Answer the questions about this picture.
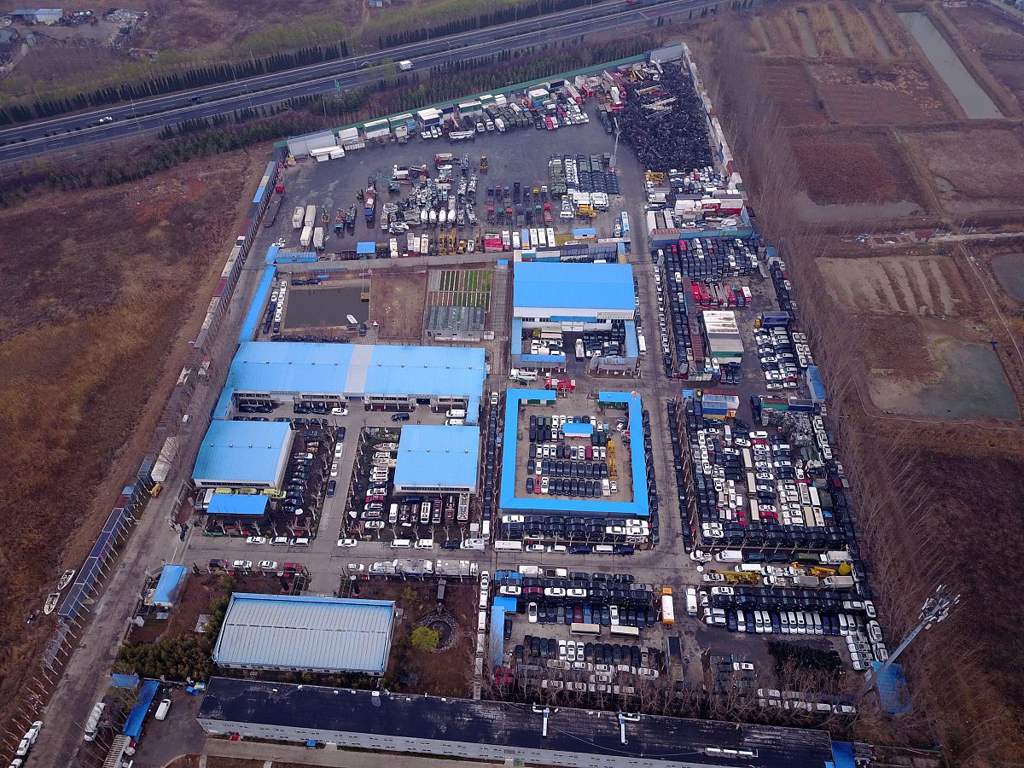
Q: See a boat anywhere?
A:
Yes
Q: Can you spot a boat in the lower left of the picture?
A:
Yes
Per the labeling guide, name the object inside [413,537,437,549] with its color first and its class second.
white vehicle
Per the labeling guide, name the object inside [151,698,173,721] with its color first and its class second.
white vehicle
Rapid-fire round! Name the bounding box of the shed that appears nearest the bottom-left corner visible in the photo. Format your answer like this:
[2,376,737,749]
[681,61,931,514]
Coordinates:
[123,679,164,740]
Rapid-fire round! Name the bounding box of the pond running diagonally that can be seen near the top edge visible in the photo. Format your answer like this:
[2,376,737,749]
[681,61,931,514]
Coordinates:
[899,11,1003,118]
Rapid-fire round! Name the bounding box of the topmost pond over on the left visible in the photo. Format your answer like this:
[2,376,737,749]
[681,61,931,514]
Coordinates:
[284,286,370,327]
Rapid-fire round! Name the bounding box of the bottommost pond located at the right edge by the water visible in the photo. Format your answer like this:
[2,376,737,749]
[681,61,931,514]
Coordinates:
[872,338,1021,421]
